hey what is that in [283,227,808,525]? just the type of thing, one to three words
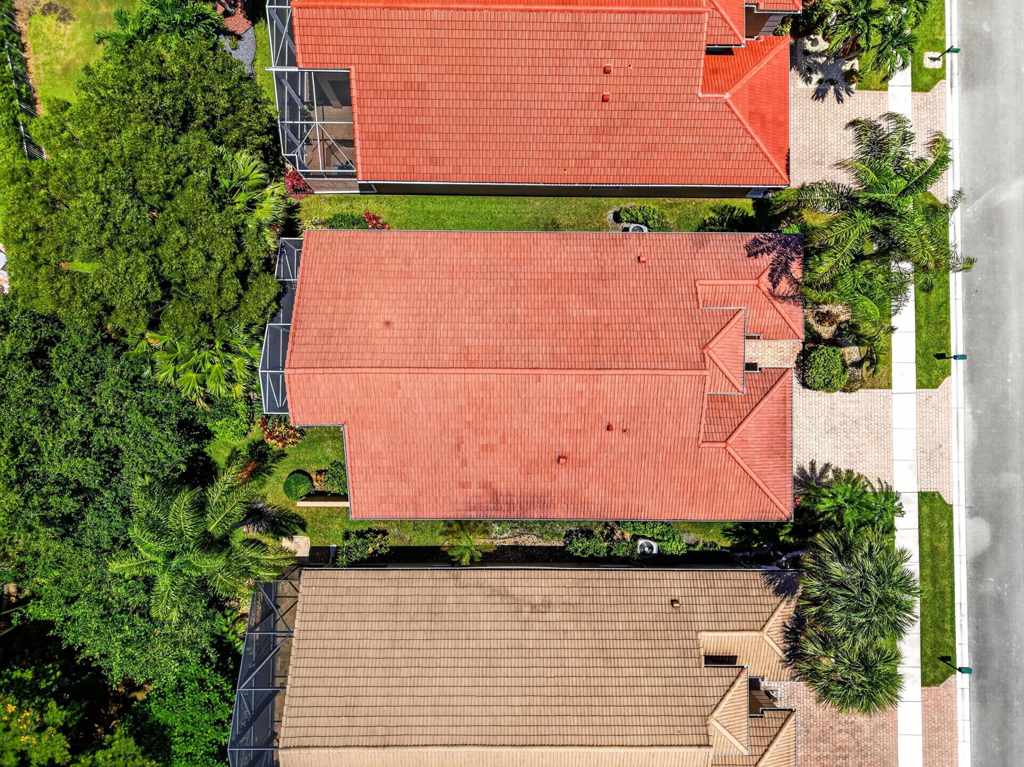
house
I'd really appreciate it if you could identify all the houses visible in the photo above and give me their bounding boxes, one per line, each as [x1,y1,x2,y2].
[275,538,808,767]
[291,0,810,201]
[283,227,808,525]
